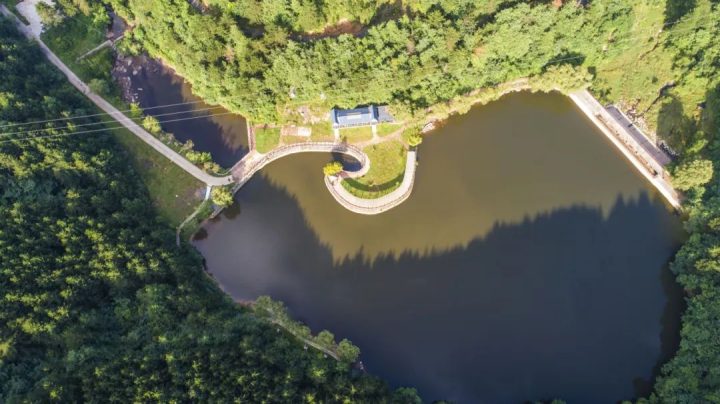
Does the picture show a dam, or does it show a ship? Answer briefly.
dam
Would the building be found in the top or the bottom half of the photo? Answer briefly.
top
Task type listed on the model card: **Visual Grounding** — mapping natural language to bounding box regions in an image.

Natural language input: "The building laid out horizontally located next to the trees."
[329,103,394,131]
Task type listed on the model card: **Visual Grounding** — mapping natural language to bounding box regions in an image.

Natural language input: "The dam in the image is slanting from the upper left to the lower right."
[565,83,693,210]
